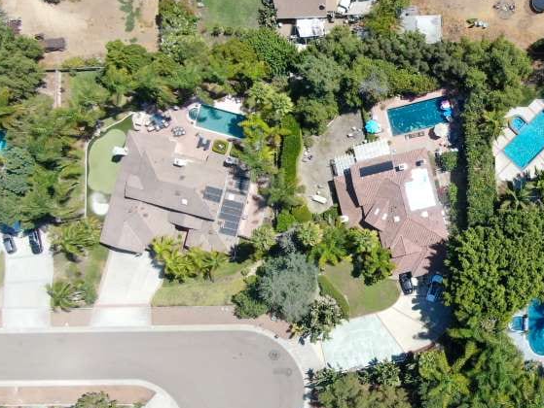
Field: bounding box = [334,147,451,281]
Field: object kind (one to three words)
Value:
house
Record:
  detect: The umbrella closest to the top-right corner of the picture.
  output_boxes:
[433,122,450,138]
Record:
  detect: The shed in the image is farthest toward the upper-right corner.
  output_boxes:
[401,7,443,42]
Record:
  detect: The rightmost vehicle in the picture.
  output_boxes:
[426,274,444,302]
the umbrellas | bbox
[433,122,450,138]
[150,110,166,126]
[365,119,382,134]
